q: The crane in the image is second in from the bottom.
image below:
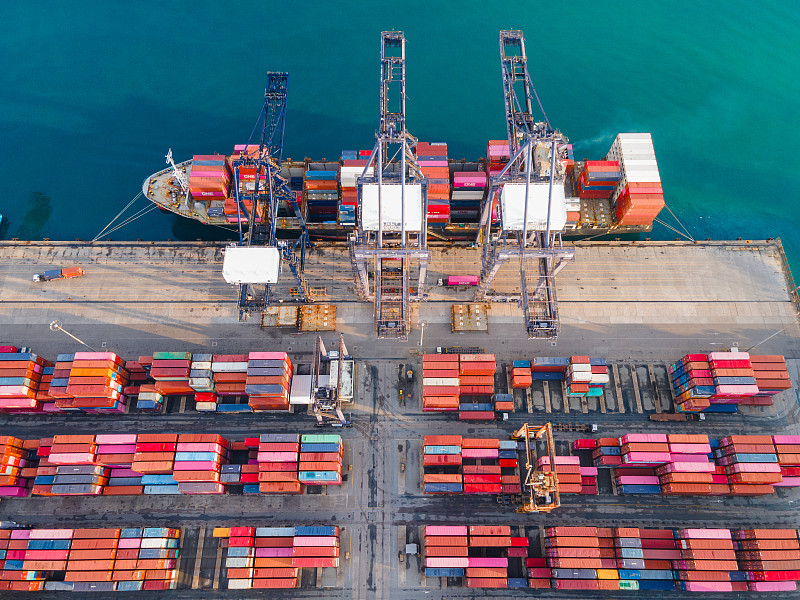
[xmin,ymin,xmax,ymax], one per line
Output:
[309,336,351,427]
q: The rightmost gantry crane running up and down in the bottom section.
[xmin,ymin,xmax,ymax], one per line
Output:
[513,422,561,516]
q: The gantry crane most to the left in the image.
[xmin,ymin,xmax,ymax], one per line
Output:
[216,74,321,321]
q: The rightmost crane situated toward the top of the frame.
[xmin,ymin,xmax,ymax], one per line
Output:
[466,29,580,338]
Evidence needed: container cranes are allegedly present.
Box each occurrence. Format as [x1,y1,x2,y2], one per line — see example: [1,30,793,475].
[513,422,561,516]
[309,336,351,427]
[216,74,321,321]
[347,29,438,338]
[466,29,580,338]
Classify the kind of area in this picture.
port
